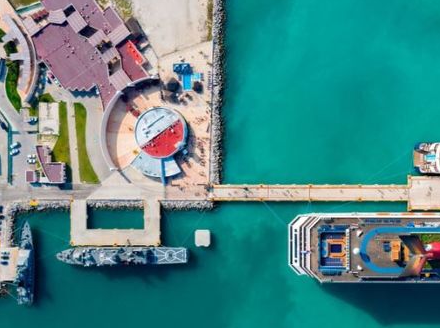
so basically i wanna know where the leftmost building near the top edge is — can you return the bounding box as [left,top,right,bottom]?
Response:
[23,0,150,107]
